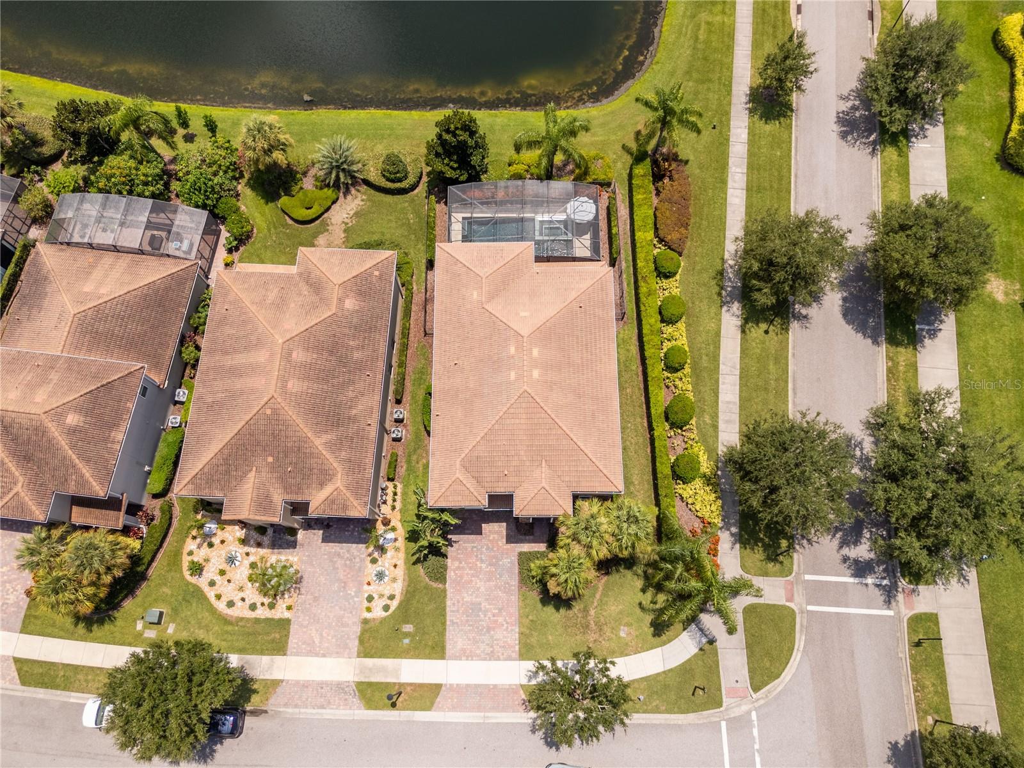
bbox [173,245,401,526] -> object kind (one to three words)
house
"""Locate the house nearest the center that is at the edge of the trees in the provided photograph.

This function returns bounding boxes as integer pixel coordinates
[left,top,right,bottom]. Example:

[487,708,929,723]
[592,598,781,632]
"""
[425,241,625,527]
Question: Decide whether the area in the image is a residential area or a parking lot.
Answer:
residential area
